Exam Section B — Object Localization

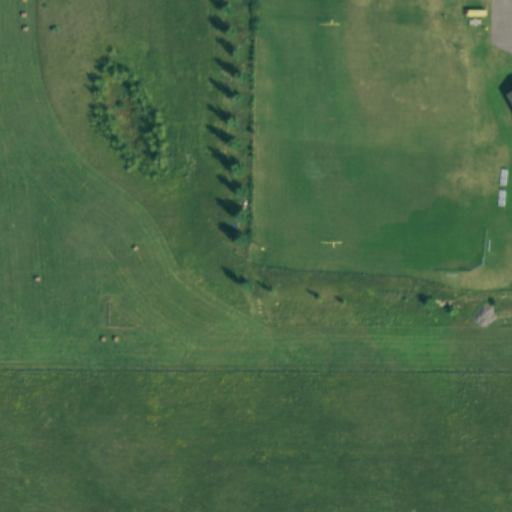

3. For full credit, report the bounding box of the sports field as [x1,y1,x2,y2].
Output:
[251,0,487,271]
